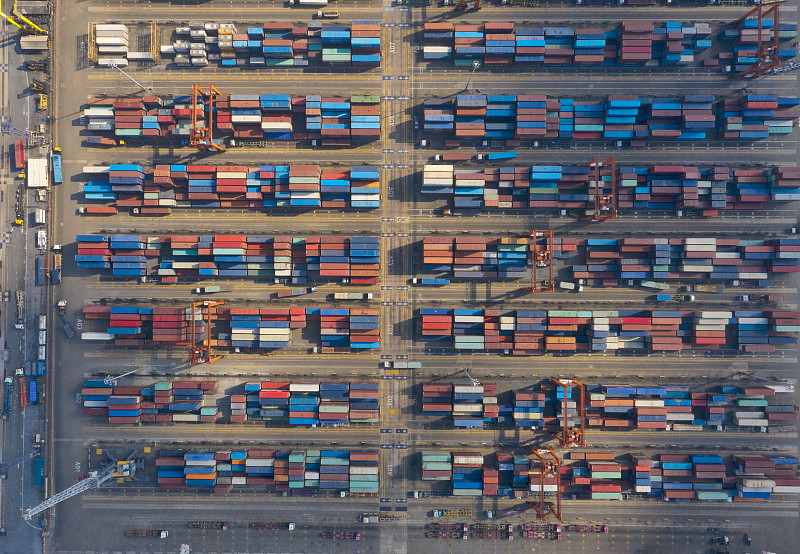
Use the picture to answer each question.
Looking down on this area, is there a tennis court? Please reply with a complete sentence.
No, I can't see a single tennis court in this photo.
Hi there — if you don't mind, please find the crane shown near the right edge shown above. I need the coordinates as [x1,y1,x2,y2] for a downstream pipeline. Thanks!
[734,2,779,80]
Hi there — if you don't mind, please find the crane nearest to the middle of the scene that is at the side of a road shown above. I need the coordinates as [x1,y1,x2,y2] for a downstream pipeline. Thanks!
[523,227,554,293]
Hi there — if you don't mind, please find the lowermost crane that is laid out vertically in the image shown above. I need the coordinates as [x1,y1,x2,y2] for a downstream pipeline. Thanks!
[530,445,562,518]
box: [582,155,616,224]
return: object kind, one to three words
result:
container crane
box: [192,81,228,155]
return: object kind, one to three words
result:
container crane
